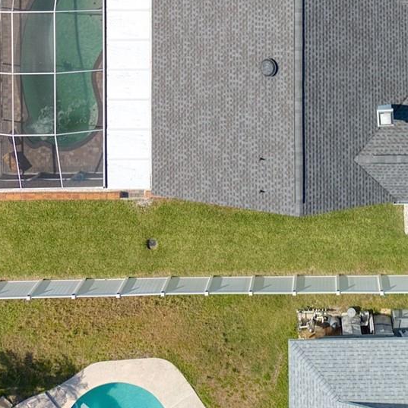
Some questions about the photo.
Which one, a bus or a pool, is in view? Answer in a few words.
pool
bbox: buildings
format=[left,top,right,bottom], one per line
[147,0,408,216]
[286,334,408,408]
